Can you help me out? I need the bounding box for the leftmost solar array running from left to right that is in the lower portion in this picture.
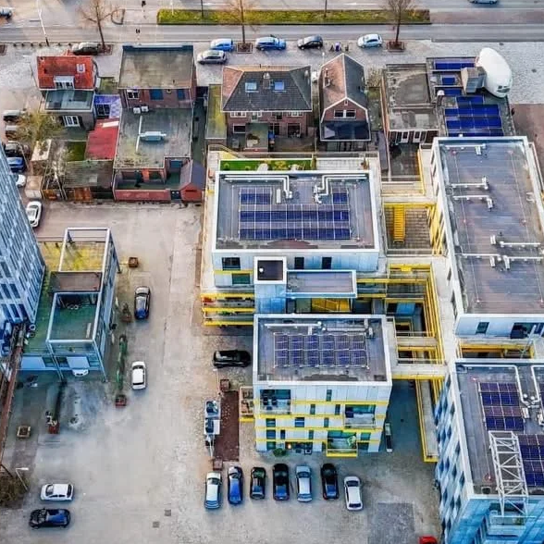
[274,332,371,367]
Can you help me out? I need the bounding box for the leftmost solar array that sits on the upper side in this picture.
[239,186,353,238]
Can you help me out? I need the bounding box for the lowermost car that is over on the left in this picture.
[24,506,74,529]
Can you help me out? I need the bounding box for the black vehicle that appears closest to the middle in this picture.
[210,348,252,368]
